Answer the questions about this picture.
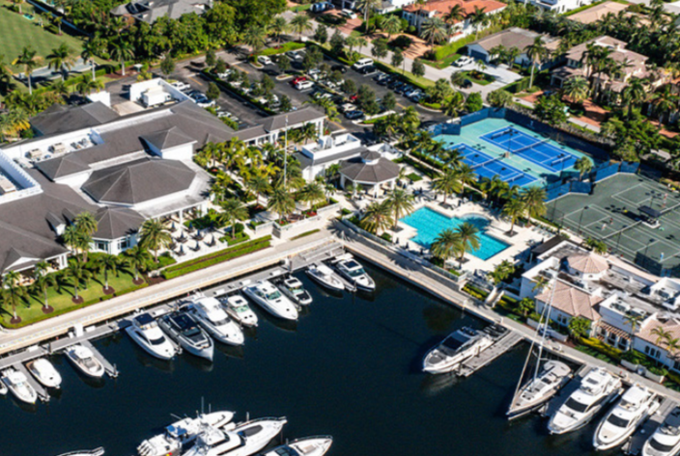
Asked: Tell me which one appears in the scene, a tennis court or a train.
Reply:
tennis court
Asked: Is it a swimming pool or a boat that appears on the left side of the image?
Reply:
boat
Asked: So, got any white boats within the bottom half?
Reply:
Yes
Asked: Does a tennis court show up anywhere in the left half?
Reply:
No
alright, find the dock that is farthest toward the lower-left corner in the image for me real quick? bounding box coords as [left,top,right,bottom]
[14,360,51,401]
